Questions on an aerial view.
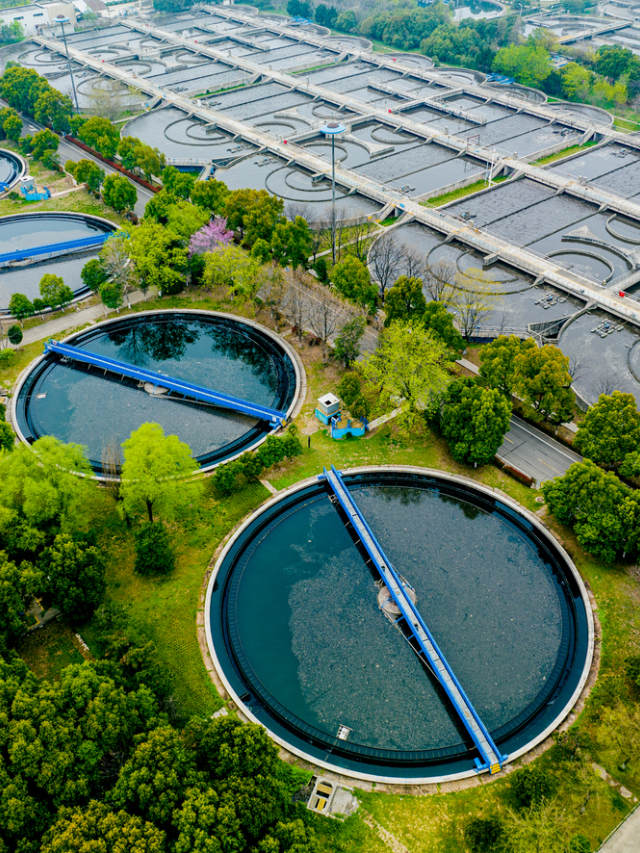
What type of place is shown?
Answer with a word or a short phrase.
industrial area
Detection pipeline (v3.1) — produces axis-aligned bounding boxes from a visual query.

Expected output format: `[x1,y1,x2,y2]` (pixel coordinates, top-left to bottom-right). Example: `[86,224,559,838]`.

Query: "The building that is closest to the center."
[314,387,342,423]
